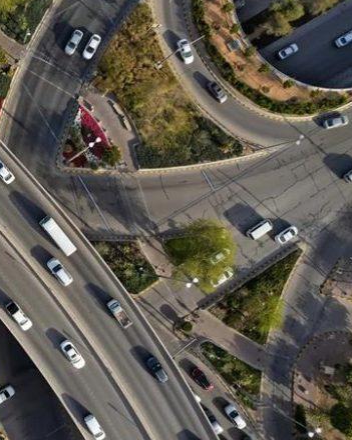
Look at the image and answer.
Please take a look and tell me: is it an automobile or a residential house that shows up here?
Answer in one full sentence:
The image shows an automobile.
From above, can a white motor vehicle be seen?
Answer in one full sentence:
Yes, there's a white motor vehicle down there.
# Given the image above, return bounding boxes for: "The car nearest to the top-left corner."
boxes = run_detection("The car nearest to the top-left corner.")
[65,29,84,56]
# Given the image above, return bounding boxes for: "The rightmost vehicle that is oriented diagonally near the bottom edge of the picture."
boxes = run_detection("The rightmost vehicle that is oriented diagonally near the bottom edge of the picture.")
[223,402,247,429]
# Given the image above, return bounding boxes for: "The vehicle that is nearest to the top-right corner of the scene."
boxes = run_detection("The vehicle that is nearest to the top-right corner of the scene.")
[331,30,352,49]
